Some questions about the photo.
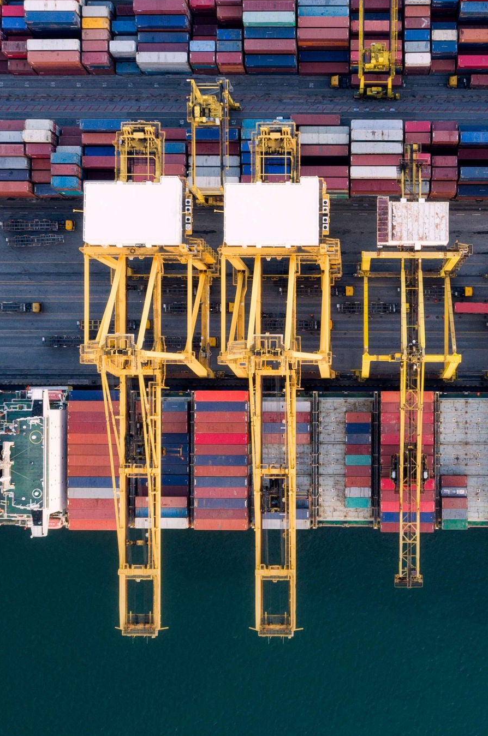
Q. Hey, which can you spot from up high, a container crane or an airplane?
container crane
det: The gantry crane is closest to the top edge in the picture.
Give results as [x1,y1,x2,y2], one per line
[353,0,401,98]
